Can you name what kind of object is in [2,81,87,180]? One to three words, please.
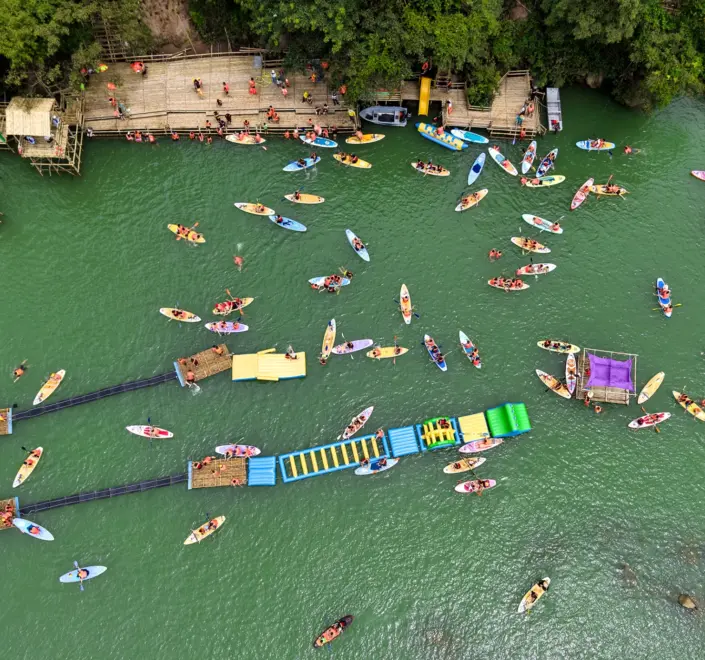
shed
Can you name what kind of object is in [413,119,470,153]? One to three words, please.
boat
